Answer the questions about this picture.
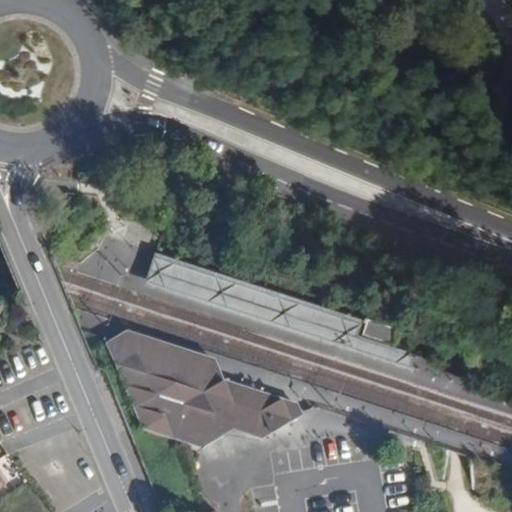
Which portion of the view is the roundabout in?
top left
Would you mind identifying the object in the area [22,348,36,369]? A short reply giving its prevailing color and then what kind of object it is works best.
gray vehicle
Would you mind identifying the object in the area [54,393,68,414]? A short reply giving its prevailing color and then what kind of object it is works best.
white vehicle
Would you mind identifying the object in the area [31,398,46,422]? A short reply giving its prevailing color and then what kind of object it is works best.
white car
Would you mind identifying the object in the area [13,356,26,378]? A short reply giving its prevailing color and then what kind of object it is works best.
white vehicle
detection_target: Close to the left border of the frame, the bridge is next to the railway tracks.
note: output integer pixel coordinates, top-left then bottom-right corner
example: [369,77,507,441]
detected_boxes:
[0,230,79,323]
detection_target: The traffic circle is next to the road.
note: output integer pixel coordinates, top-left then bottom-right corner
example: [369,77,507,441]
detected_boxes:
[0,0,114,166]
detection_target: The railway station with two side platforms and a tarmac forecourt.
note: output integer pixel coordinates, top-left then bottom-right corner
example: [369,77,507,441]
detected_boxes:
[66,226,512,468]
